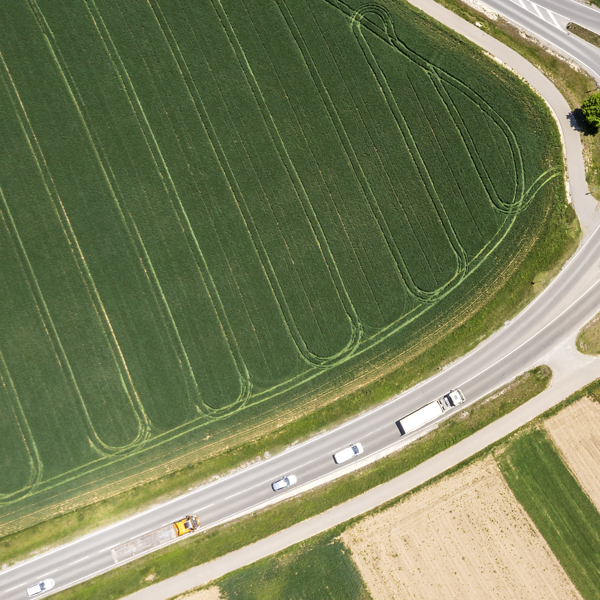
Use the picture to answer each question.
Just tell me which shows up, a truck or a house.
truck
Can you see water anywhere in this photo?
No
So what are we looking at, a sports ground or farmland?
farmland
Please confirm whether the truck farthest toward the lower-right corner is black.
No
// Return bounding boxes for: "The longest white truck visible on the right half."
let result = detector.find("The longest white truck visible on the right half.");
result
[399,388,467,433]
